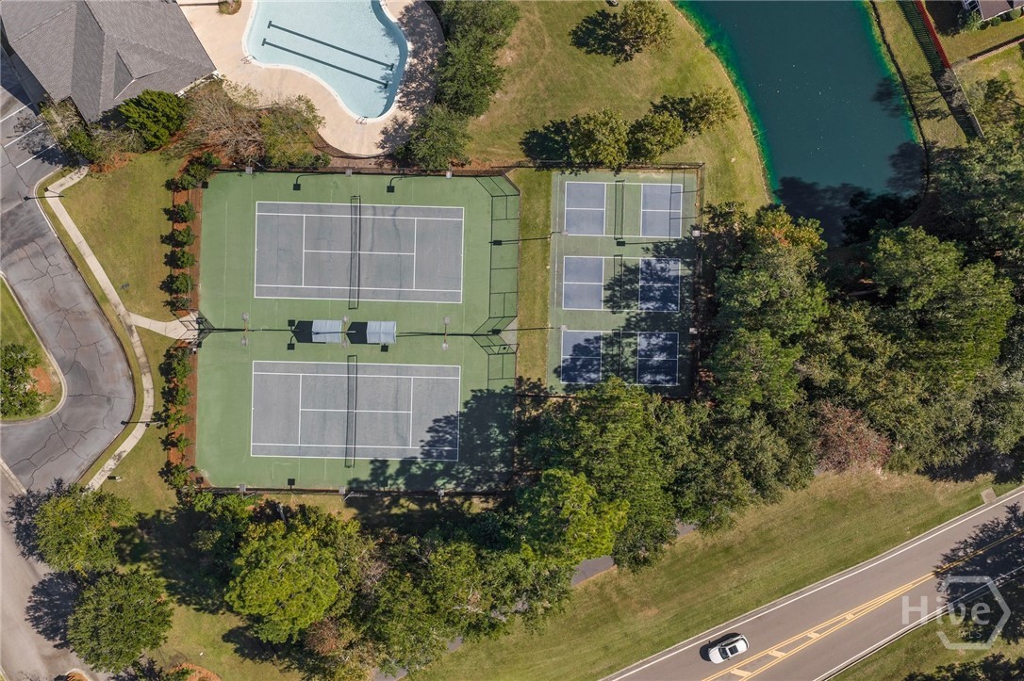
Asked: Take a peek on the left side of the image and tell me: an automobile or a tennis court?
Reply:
tennis court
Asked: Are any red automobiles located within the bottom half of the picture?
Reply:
No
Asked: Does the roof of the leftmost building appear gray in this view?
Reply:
Yes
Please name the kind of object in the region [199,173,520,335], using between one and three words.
tennis court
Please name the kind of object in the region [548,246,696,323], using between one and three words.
sports court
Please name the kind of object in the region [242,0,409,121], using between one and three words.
swimming pool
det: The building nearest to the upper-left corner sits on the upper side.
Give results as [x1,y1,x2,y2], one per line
[0,0,223,123]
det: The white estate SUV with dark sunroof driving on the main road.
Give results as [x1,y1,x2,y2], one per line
[706,634,748,663]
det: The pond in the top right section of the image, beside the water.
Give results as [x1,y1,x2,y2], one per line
[674,0,921,246]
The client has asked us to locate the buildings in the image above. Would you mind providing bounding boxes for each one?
[0,0,223,123]
[941,0,1024,28]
